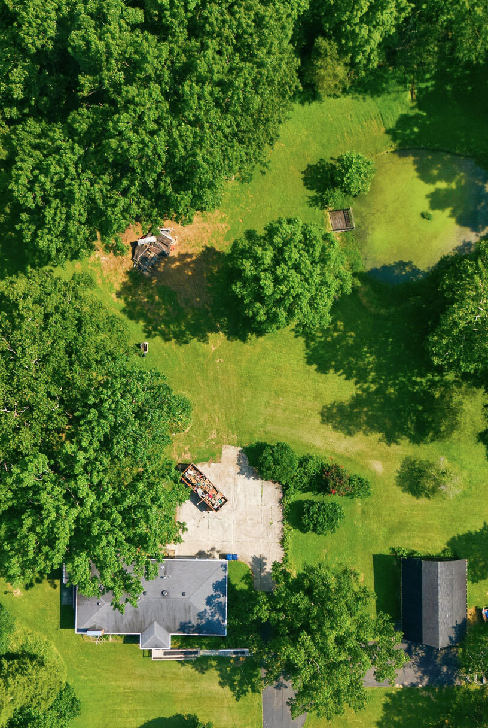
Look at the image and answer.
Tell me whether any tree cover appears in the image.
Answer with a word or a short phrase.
Yes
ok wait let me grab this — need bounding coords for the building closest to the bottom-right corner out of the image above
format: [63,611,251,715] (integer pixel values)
[401,556,468,651]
